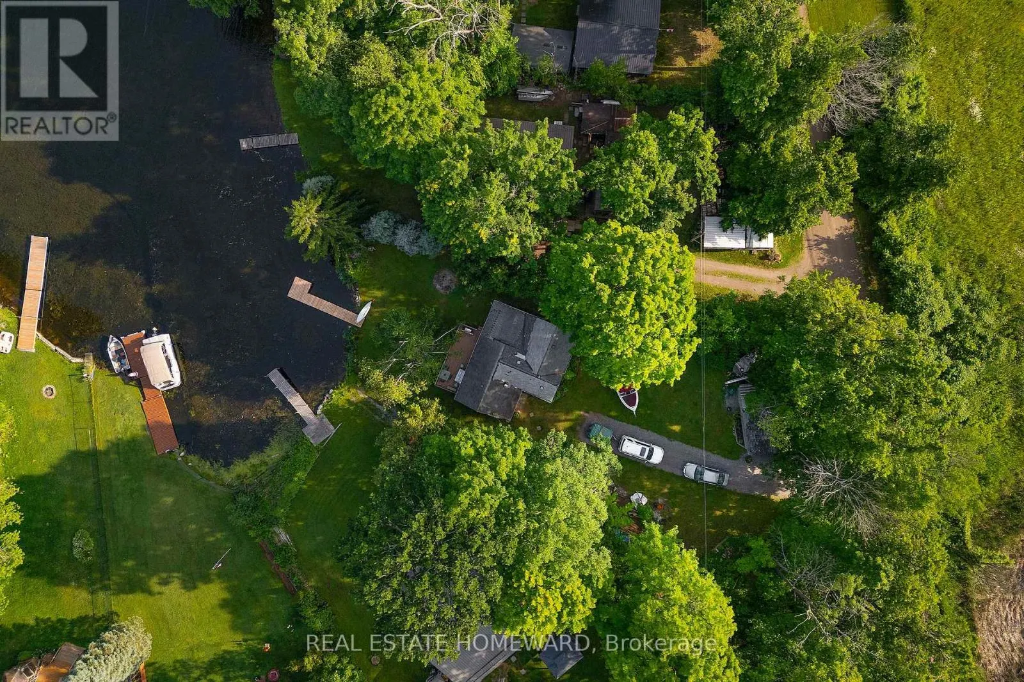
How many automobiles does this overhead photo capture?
2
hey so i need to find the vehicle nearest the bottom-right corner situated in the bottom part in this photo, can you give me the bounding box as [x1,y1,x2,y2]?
[682,461,730,488]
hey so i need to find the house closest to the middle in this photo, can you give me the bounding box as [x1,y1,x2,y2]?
[455,300,570,421]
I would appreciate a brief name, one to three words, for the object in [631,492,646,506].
umbrella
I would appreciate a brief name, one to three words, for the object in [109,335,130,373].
boat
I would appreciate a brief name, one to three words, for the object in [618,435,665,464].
car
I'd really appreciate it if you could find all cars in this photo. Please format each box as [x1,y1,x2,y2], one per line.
[618,435,665,464]
[682,461,730,488]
